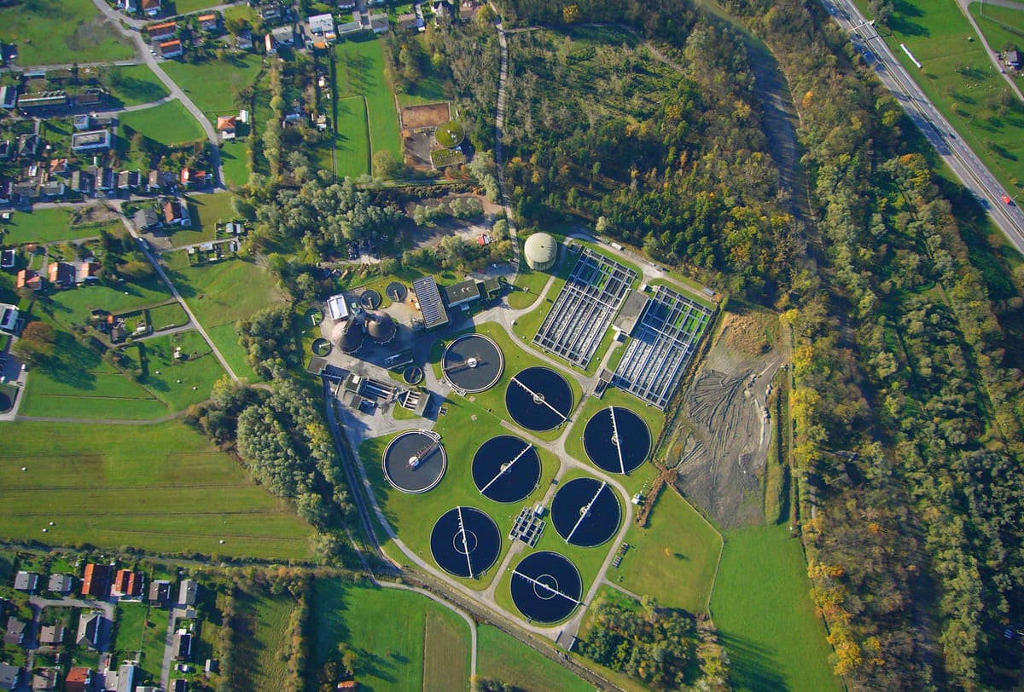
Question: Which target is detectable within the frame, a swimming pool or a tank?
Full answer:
There is a tank in the scene.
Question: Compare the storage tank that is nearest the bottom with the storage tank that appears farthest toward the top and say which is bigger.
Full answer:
The larger object is the storage tank that is nearest the bottom, with the storage tank that appears farthest toward the top being the smaller of the pair.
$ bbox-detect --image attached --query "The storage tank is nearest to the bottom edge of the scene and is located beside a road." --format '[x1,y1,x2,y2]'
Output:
[509,552,585,625]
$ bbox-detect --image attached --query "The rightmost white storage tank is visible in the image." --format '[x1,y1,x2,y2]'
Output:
[526,236,559,274]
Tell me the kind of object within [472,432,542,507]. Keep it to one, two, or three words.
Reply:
storage tank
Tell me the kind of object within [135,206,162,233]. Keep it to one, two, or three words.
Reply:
house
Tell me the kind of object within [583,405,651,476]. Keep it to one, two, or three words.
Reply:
storage tank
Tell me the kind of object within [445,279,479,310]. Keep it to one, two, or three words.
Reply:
building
